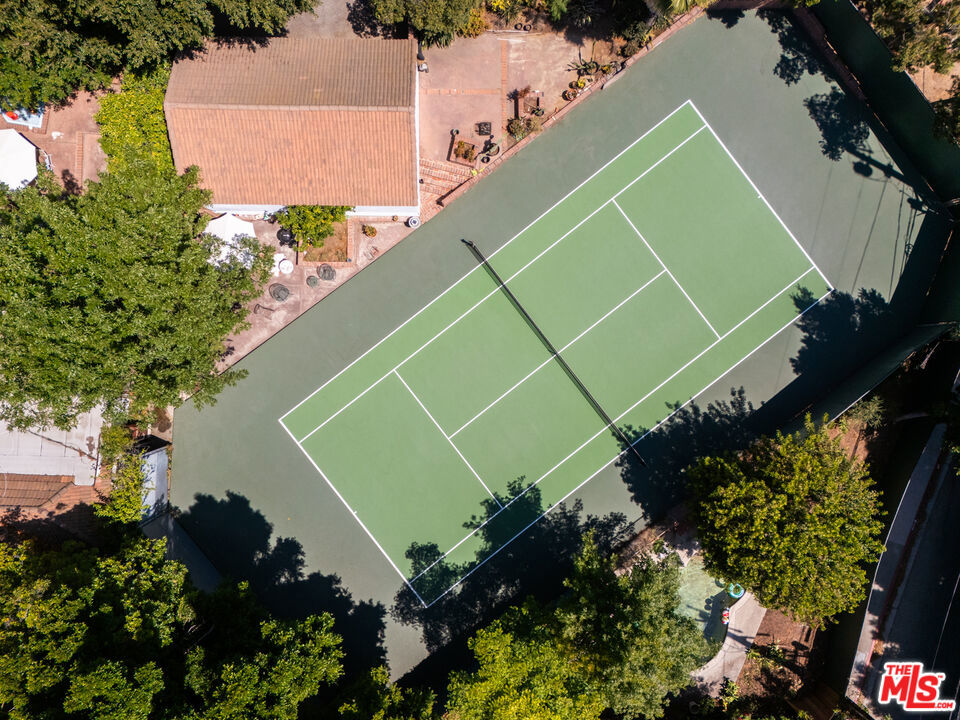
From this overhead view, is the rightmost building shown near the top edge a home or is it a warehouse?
home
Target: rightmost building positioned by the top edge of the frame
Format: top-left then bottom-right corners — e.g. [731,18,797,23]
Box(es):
[160,30,421,217]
